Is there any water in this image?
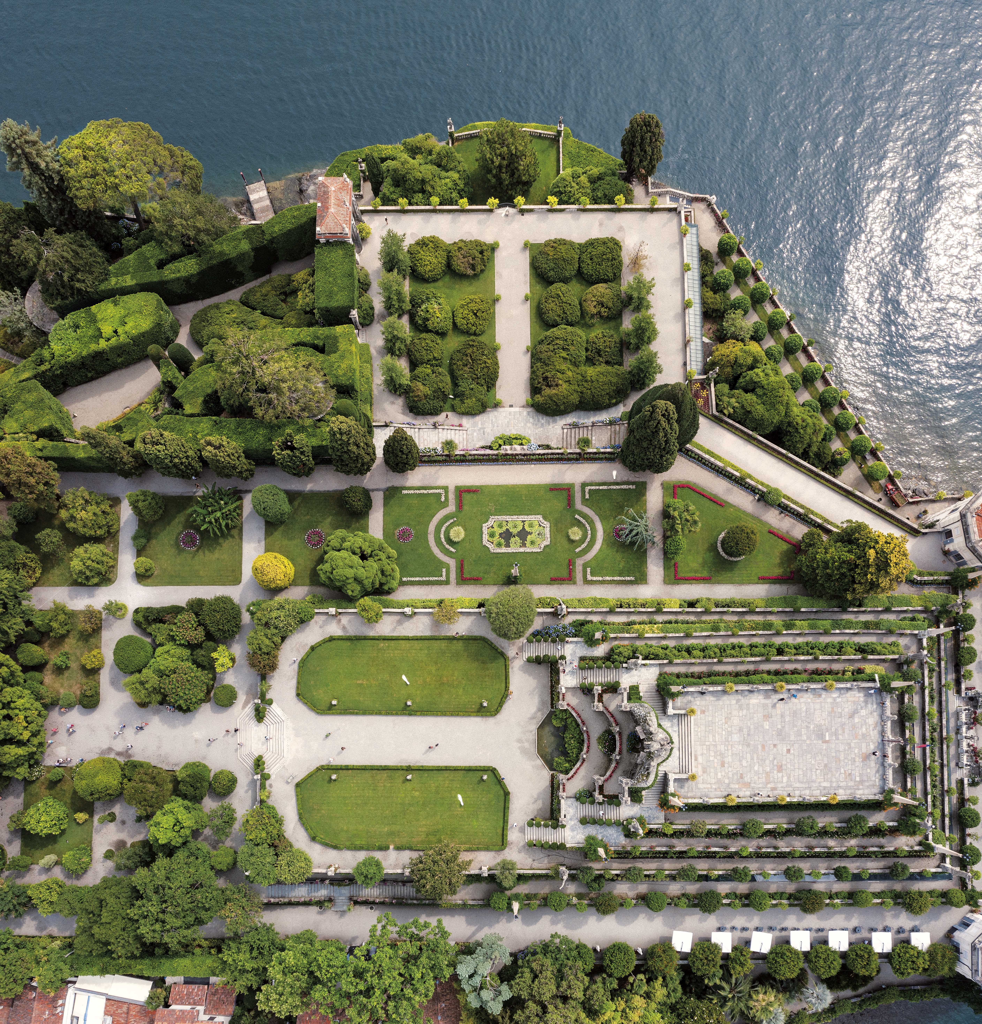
Yes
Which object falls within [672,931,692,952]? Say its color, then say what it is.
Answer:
white umbrella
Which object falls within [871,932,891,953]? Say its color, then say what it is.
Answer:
white umbrella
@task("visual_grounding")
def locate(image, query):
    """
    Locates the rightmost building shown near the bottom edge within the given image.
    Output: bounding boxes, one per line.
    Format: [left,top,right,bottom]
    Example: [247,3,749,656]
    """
[945,904,982,990]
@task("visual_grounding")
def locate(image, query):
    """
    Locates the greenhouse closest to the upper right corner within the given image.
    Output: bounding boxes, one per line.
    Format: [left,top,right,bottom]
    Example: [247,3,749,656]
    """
[685,223,704,375]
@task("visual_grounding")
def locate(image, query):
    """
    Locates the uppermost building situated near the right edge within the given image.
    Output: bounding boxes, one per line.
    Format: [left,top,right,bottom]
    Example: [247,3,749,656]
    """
[927,487,982,576]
